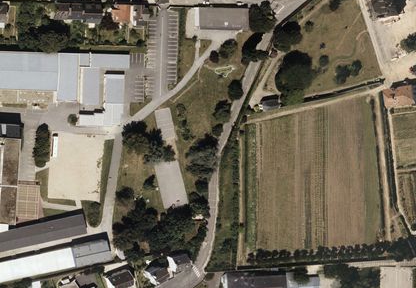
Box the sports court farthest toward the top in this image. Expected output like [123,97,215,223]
[155,108,175,142]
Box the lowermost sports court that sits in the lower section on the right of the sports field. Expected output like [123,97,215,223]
[154,163,188,209]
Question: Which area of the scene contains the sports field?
left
